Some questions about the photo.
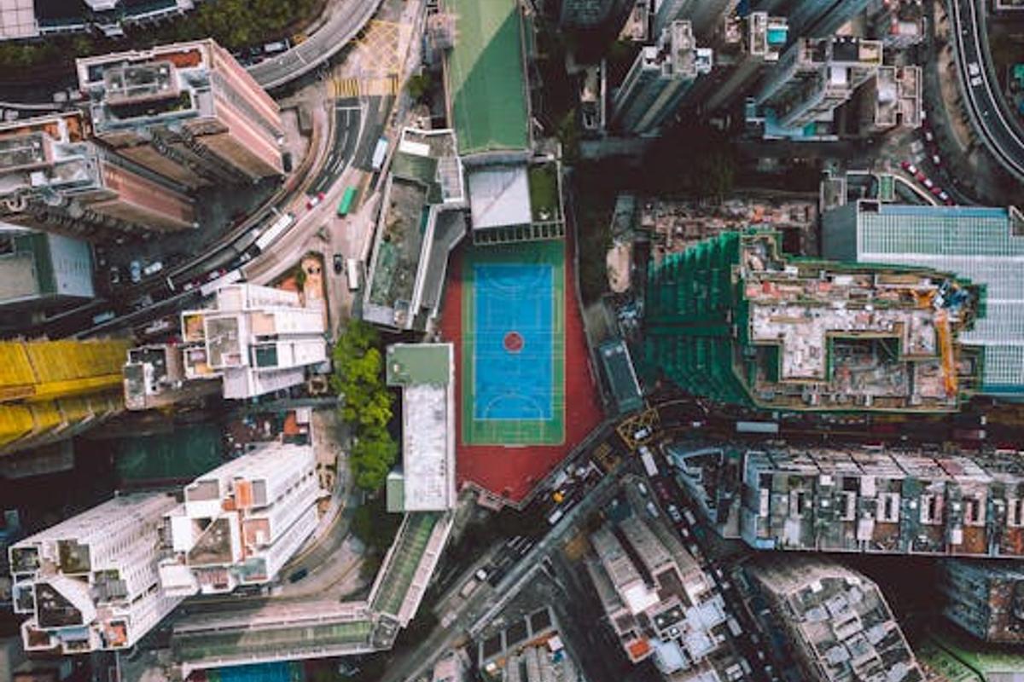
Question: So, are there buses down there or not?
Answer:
Yes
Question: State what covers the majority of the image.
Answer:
buildings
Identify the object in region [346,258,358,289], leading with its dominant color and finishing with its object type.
white vehicle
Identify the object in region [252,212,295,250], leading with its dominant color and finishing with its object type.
white bus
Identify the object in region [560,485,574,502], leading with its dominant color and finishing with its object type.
black car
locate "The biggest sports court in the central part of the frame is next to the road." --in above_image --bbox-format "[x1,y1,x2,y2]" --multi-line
[437,223,605,504]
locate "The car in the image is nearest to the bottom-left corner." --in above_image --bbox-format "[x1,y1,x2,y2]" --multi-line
[289,565,310,583]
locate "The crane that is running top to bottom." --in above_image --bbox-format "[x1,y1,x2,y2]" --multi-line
[913,279,970,395]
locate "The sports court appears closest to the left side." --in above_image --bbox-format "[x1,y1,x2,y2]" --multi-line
[111,416,228,484]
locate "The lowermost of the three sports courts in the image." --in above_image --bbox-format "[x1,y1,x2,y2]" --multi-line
[178,655,328,682]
